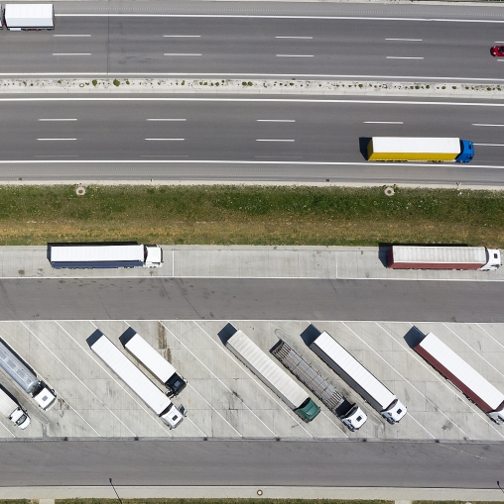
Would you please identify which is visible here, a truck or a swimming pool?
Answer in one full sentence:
Visible in the photo is a truck.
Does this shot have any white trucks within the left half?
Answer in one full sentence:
Yes, looking within the left half, one can make out a white truck.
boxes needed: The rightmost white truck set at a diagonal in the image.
[413,333,504,425]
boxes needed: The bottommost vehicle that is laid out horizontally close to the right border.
[388,246,501,269]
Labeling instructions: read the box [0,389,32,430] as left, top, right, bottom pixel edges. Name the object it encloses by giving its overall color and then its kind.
white van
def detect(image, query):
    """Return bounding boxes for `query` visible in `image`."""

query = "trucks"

[0,3,55,30]
[310,331,406,425]
[388,246,501,269]
[92,335,184,431]
[226,330,322,425]
[0,341,56,408]
[273,344,368,433]
[52,245,163,268]
[366,137,475,163]
[125,333,188,400]
[413,333,504,425]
